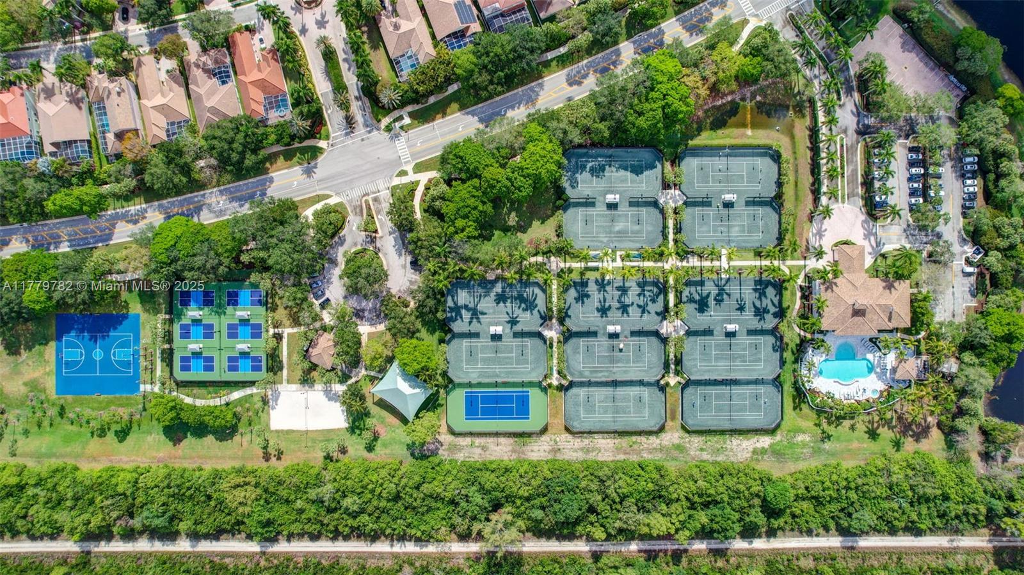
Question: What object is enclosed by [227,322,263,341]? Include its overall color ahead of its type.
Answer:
blue sports court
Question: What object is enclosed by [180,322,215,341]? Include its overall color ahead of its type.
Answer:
blue sports court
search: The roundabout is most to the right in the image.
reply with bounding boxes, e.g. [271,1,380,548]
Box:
[340,244,389,301]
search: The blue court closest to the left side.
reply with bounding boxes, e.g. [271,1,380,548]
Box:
[56,313,140,395]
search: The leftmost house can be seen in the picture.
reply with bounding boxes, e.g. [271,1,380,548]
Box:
[0,81,46,163]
